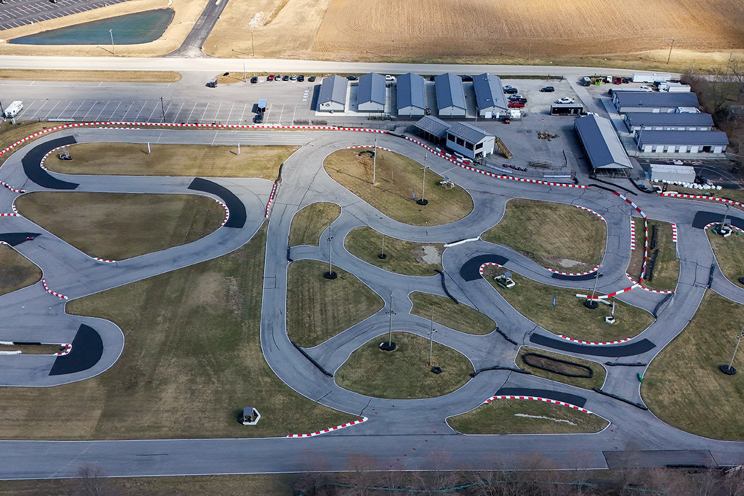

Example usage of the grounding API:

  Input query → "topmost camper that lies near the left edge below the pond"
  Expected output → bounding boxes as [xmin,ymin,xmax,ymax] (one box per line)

[3,100,24,117]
